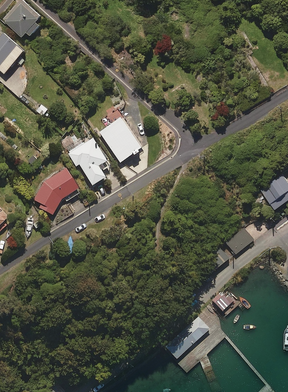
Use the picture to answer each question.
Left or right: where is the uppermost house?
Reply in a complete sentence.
The uppermost house is on the left side of the image.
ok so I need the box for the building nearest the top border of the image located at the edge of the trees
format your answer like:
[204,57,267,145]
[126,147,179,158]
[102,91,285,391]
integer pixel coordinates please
[4,0,44,37]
